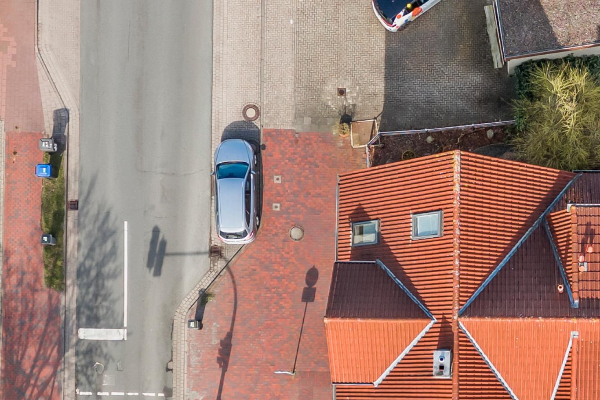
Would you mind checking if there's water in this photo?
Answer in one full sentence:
No, the picture contains no water.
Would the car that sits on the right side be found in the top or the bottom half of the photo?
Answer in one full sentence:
Seen from above, the car that sits on the right side lies in the top half of the view.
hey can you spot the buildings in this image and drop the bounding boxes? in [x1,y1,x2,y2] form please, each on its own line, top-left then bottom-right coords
[497,0,600,68]
[324,149,600,400]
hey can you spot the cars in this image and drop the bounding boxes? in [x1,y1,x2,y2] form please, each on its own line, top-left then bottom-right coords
[371,0,445,31]
[208,138,260,242]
